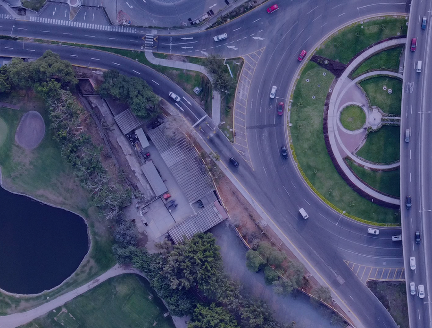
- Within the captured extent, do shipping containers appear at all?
Yes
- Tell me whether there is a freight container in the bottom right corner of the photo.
No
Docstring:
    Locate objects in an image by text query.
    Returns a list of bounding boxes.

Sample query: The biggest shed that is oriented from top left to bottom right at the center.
[147,124,218,203]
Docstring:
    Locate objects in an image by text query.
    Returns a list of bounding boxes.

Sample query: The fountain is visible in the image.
[366,107,382,129]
